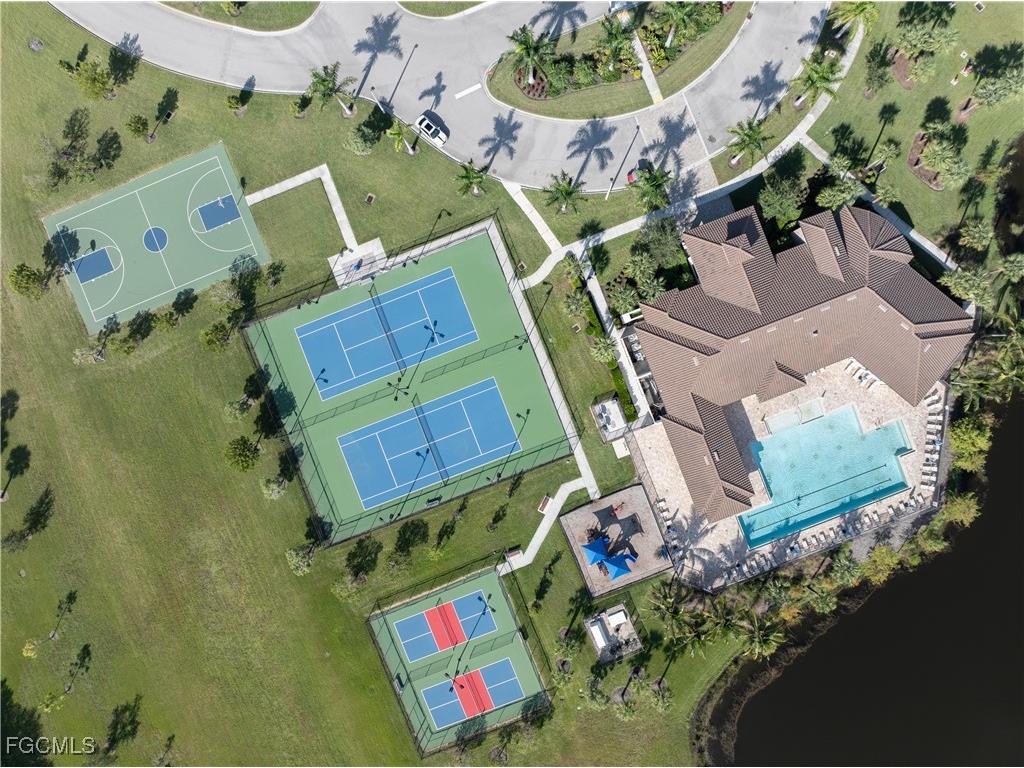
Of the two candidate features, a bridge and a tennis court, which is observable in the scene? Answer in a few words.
tennis court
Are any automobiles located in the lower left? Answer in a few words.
No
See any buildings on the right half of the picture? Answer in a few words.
Yes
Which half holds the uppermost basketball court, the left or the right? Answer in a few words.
left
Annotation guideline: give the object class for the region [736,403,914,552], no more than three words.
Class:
swimming pool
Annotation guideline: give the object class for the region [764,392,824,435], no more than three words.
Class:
swimming pool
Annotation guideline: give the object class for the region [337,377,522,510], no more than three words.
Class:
tennis court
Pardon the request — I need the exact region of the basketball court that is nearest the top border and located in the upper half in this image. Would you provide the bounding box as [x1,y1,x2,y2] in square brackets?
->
[57,157,257,322]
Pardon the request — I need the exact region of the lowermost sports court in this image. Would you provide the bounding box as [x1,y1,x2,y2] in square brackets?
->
[421,657,525,730]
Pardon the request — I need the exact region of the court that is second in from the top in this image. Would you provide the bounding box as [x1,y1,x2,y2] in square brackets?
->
[294,267,479,401]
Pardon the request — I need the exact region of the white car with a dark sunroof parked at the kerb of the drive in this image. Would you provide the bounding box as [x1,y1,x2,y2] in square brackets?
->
[416,115,447,147]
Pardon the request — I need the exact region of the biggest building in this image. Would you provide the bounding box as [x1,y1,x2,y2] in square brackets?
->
[635,205,975,526]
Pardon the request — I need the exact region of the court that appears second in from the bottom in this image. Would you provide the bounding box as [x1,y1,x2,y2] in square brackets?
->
[394,590,497,663]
